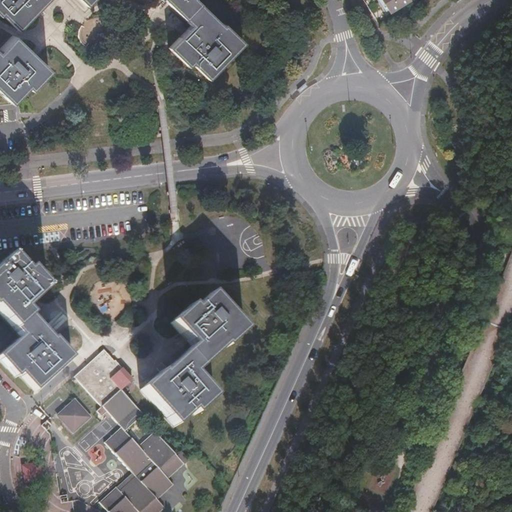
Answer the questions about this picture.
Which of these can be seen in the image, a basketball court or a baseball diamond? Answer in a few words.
basketball court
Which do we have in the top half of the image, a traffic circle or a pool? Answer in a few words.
traffic circle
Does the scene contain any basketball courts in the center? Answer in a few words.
Yes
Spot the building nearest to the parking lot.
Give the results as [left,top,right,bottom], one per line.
[0,248,78,388]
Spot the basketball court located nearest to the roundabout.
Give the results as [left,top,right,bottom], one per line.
[188,216,269,279]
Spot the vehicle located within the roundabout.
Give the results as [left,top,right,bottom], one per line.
[390,169,404,189]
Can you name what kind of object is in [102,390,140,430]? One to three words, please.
building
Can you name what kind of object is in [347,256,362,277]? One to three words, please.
vehicle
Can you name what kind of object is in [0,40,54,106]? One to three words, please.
building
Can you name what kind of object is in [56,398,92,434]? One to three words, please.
house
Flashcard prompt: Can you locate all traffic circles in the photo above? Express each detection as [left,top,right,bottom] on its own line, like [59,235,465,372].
[280,72,422,216]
